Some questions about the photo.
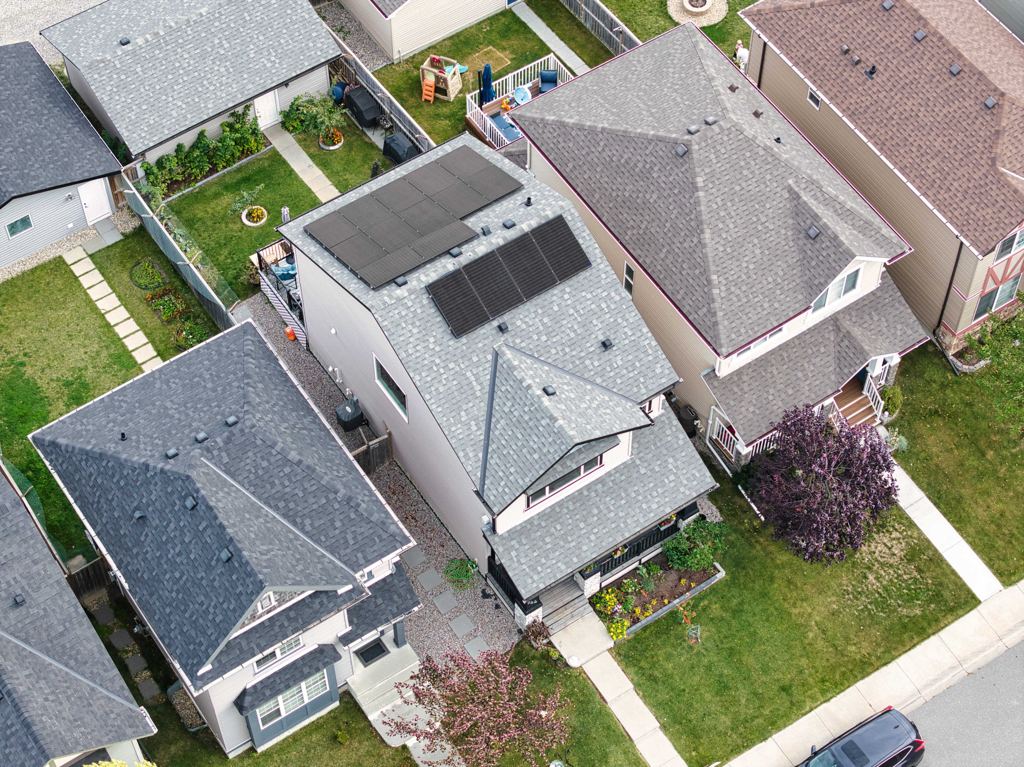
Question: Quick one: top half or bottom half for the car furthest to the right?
bottom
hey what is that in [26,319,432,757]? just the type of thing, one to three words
house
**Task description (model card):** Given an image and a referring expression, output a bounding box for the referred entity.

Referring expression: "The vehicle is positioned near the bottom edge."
[796,702,932,767]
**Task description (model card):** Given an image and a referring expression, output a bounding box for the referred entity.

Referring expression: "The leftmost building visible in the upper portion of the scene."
[0,39,126,268]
